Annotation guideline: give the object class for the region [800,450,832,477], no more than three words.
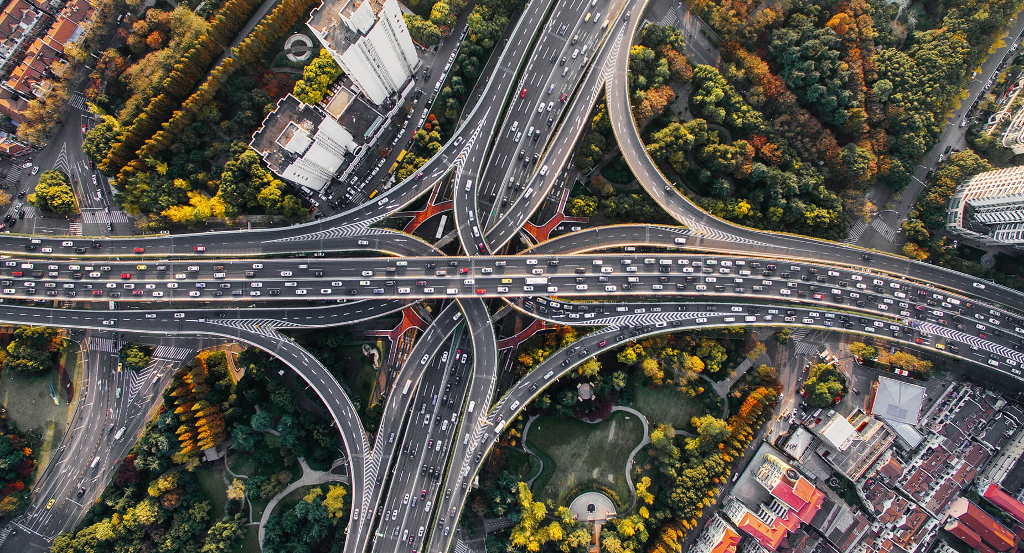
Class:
shed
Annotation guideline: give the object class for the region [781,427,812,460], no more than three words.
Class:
building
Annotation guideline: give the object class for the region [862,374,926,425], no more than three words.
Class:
building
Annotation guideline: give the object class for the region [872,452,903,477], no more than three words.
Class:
house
